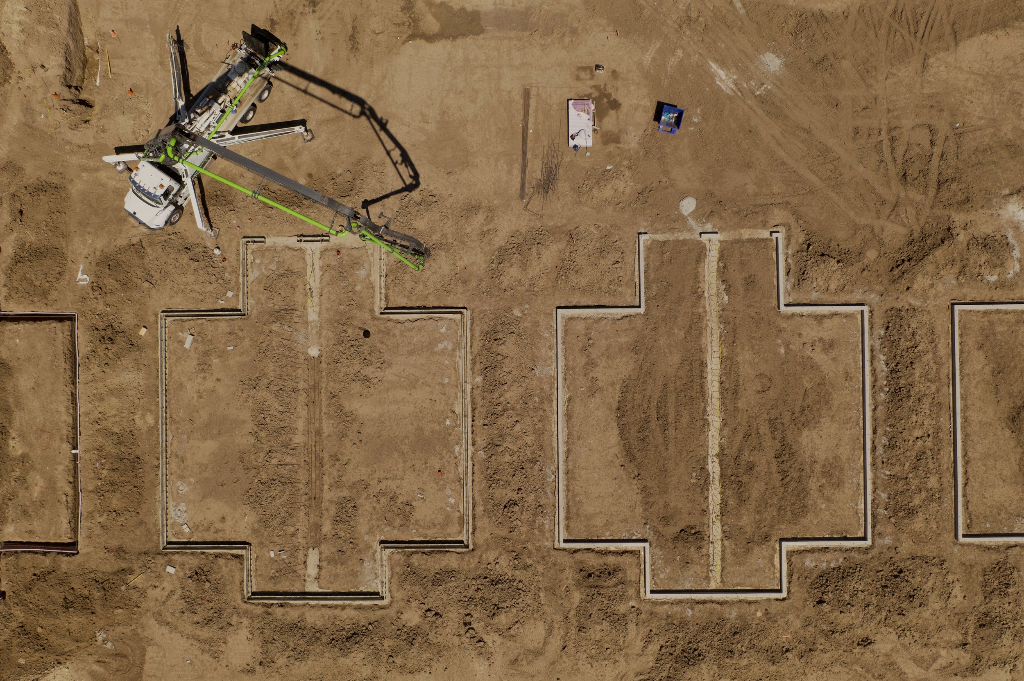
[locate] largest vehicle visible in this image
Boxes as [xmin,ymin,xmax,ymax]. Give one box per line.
[100,23,435,270]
